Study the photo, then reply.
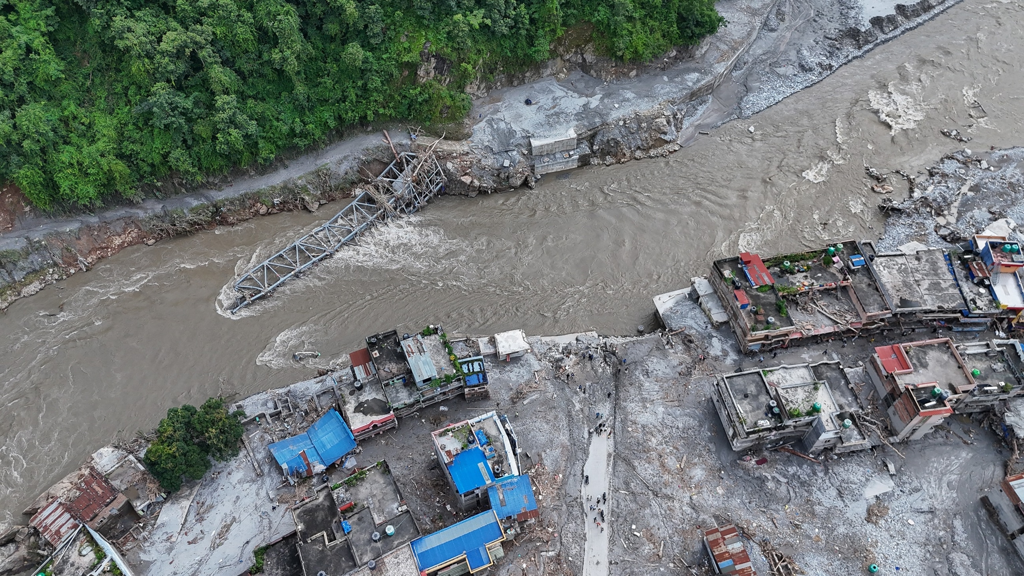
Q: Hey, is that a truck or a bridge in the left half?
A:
bridge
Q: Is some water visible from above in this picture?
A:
Yes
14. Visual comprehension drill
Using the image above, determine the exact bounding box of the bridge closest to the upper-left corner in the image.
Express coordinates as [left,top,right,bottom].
[230,151,447,314]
